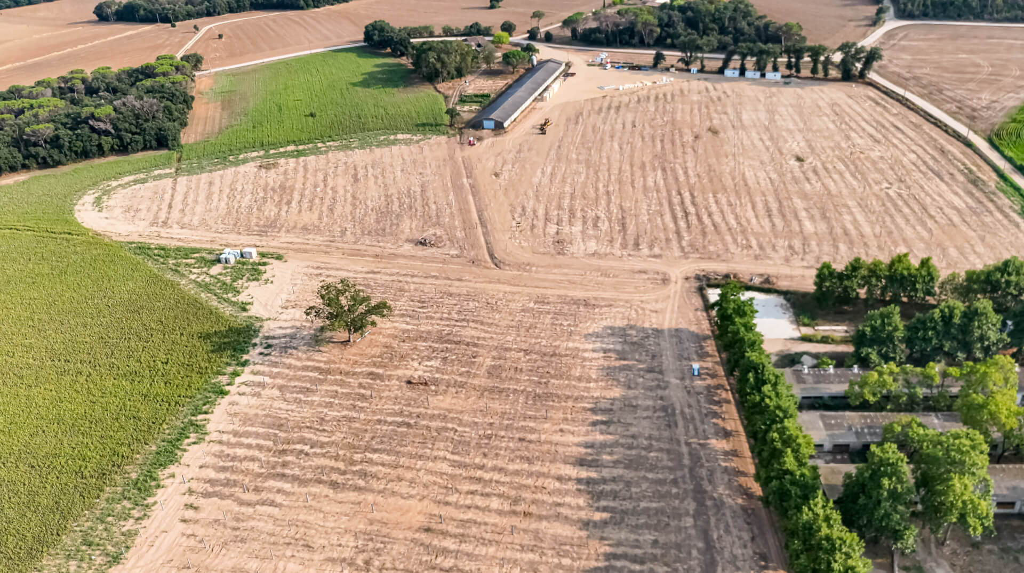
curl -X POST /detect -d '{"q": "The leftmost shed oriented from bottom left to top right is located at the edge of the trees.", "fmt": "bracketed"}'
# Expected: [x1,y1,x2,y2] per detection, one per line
[463,60,558,131]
